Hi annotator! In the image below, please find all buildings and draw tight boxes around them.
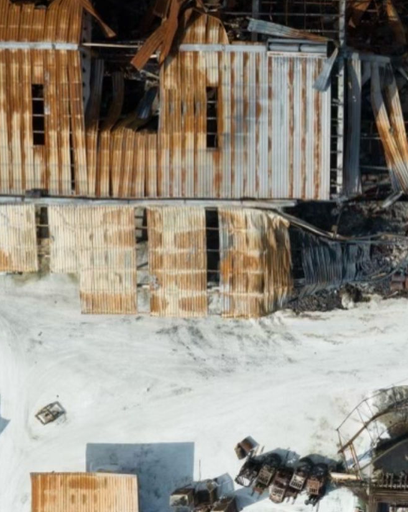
[0,0,408,318]
[30,472,138,512]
